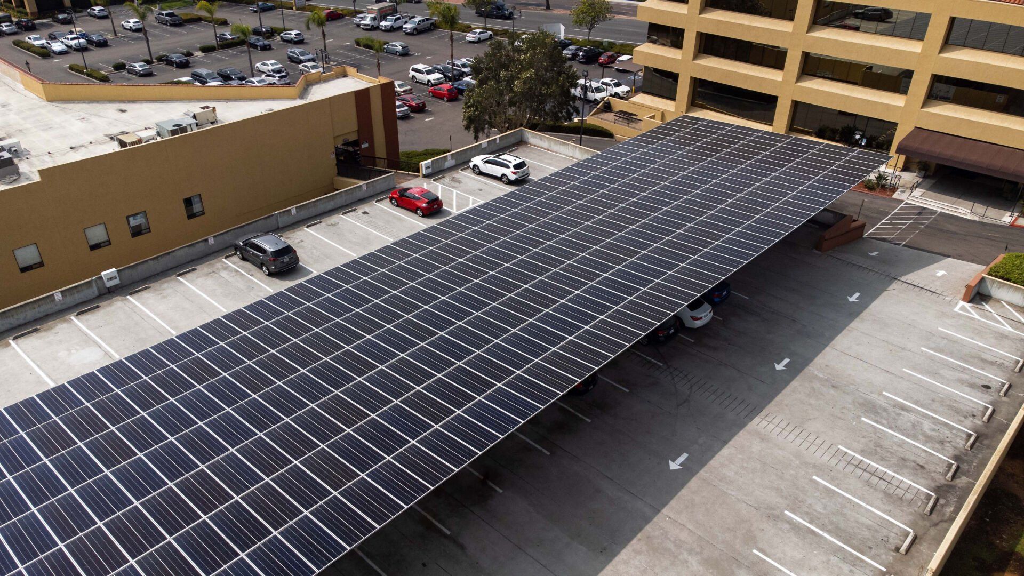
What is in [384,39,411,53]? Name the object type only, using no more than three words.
car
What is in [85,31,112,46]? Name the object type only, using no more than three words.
car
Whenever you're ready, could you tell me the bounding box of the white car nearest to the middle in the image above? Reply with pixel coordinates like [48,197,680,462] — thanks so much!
[467,152,530,184]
